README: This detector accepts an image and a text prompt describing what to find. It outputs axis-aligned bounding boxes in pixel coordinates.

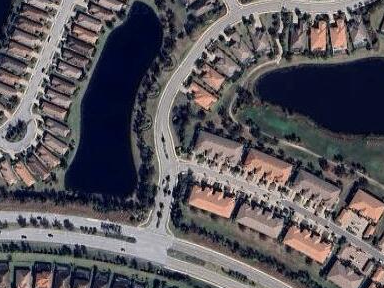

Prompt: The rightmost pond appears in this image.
[64,1,163,197]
